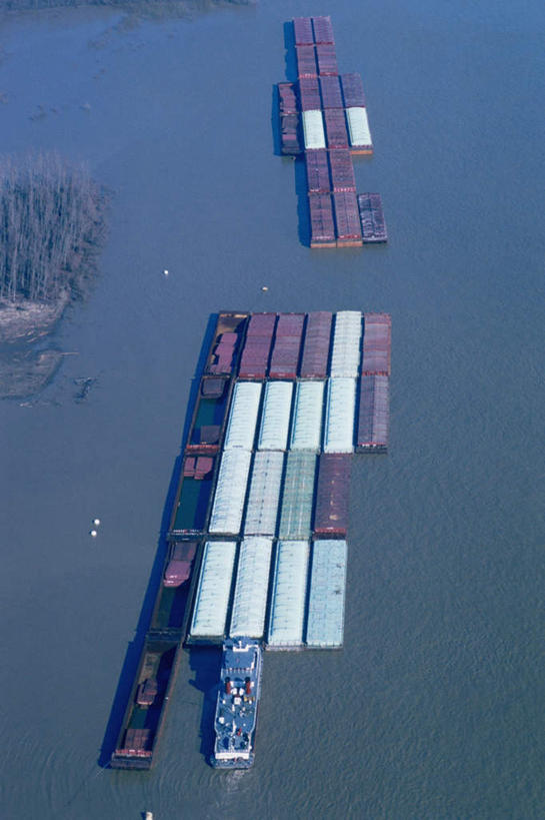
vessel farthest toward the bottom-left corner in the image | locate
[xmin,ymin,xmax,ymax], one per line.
[113,637,182,767]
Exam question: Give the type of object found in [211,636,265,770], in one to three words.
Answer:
boat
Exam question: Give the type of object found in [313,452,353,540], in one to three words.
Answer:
ship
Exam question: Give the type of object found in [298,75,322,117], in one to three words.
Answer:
ship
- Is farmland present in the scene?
No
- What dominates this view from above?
water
